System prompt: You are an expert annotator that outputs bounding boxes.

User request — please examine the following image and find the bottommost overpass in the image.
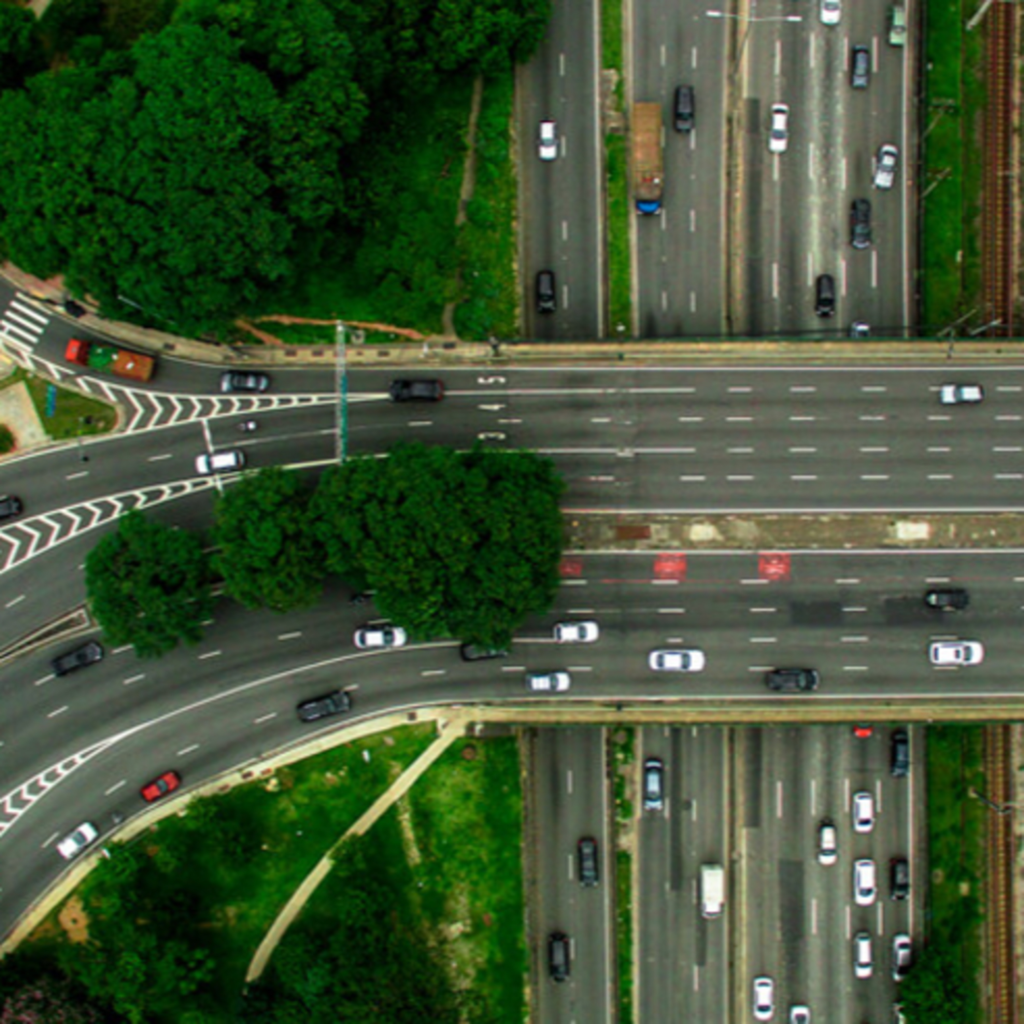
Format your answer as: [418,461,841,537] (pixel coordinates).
[489,336,1024,727]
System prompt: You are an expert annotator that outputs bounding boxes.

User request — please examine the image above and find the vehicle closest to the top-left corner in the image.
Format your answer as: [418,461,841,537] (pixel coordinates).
[64,334,158,382]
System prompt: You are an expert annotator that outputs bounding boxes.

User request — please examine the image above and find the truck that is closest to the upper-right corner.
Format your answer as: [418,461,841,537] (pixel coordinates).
[887,4,909,47]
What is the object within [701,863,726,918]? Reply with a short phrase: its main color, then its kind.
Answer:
white vehicle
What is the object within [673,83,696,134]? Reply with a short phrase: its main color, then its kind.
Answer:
black car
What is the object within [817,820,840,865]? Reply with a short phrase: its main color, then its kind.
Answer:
white car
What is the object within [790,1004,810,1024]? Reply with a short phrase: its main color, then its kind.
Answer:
white car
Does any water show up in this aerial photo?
No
